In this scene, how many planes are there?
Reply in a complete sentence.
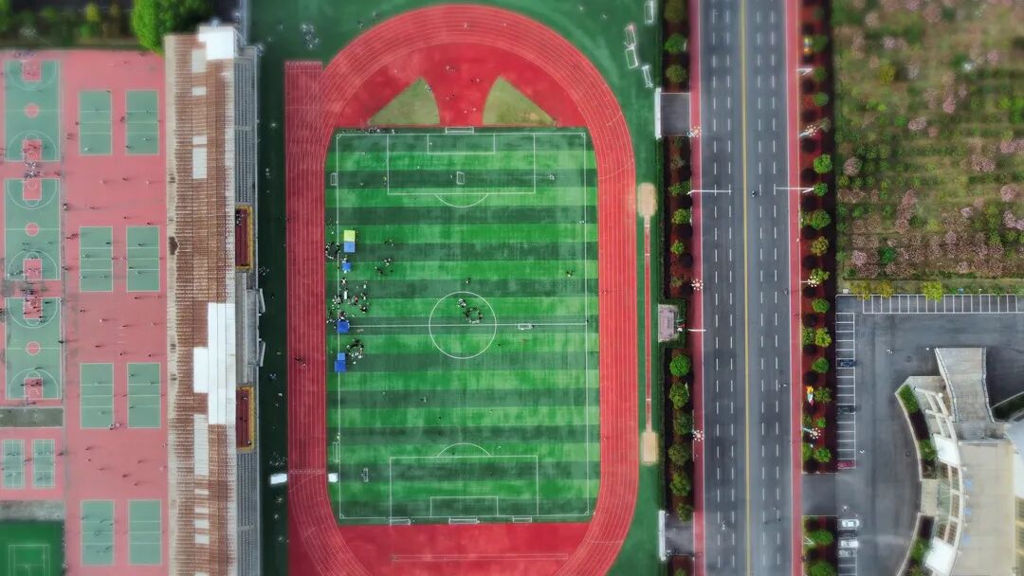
There are no planes in this view.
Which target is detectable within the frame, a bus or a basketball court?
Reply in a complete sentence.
There is a basketball court in the scene.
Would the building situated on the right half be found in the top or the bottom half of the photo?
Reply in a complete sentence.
It is in the bottom half that the building situated on the right half appears.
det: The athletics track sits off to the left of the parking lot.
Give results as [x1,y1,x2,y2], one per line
[285,5,639,576]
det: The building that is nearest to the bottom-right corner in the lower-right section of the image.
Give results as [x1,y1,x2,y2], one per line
[912,347,1024,576]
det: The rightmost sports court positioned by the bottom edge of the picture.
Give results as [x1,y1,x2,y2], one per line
[128,500,161,565]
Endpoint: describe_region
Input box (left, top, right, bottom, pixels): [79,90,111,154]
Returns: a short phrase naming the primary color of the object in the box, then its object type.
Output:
green sports court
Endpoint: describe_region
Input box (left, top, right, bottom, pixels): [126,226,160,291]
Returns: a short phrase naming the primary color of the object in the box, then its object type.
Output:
green sports court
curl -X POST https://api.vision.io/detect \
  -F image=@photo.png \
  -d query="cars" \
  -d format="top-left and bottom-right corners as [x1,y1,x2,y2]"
[838,360,855,368]
[841,540,859,549]
[838,461,854,469]
[841,520,859,528]
[839,530,855,538]
[839,550,856,558]
[838,406,855,413]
